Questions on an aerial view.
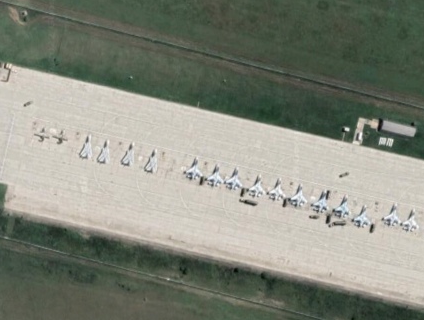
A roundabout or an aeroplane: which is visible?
aeroplane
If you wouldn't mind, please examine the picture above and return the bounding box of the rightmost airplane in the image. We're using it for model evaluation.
[403,210,419,232]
